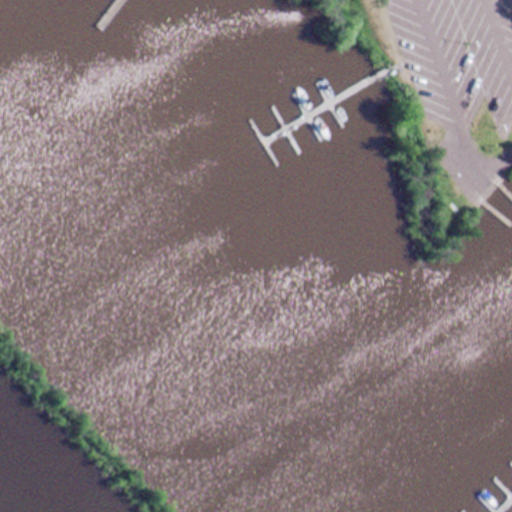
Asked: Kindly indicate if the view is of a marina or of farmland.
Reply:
marina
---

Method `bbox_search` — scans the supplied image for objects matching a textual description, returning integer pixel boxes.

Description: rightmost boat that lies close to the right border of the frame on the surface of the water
[480,486,499,507]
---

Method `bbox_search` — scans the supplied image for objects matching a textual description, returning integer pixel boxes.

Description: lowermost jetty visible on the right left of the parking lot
[249,70,389,166]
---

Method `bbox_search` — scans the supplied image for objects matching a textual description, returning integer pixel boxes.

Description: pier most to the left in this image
[97,0,127,31]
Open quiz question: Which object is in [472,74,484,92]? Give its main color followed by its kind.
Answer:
white vehicle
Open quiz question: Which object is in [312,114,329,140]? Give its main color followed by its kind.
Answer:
white boat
